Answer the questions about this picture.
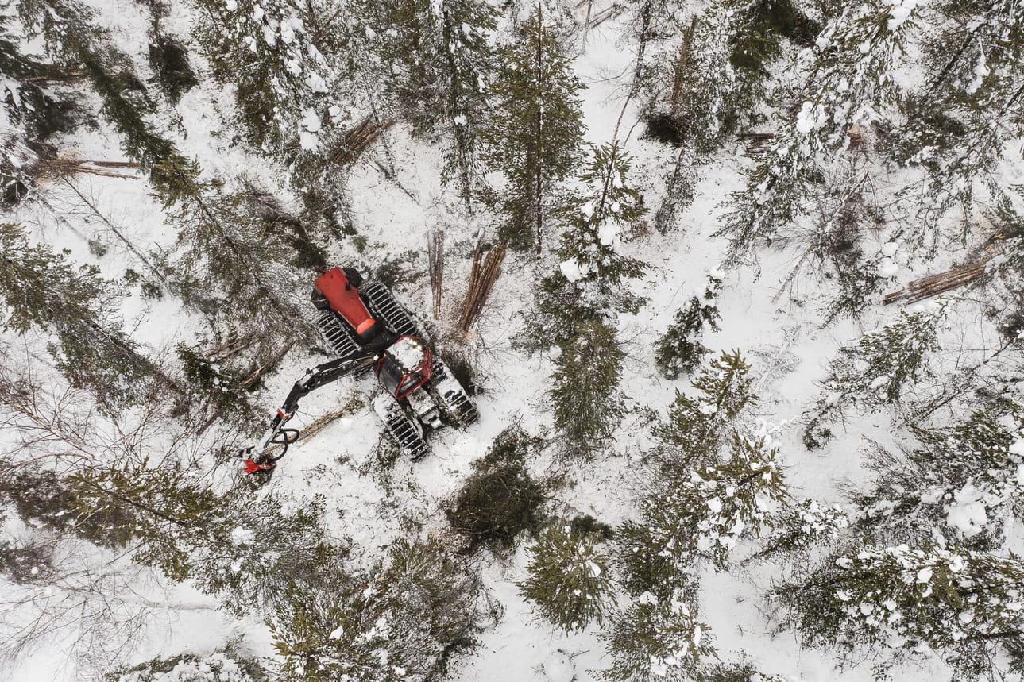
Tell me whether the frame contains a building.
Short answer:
No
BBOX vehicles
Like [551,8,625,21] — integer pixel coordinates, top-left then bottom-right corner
[240,263,488,480]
